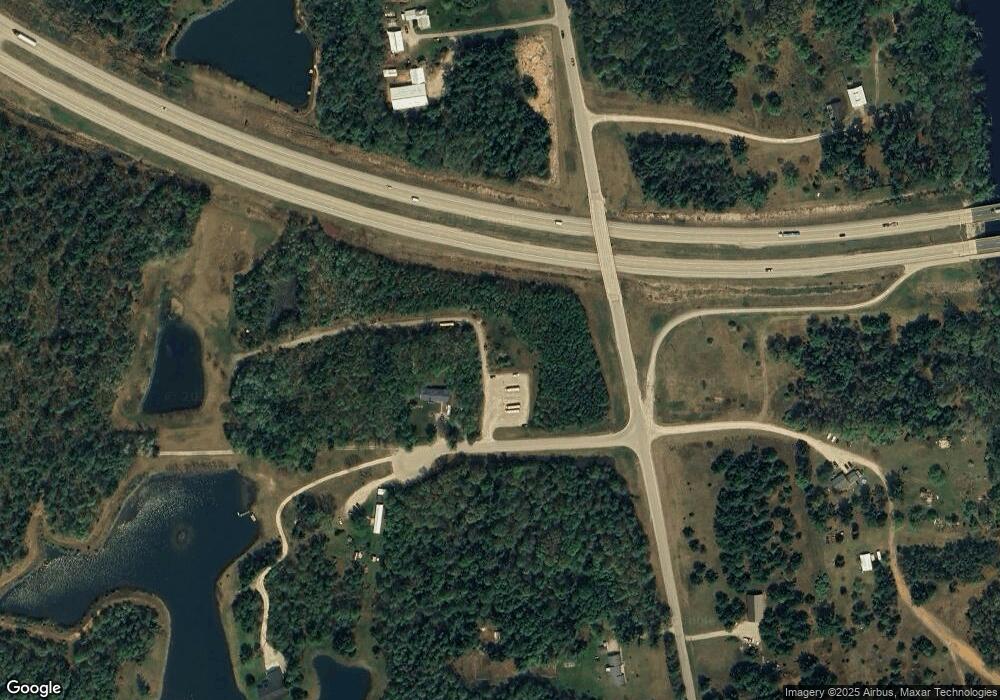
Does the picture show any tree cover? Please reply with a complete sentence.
Yes, the picture does contain tree cover.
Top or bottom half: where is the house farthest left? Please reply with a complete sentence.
Seen from above, the house farthest left lies in the bottom half of the view.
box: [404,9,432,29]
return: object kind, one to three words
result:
house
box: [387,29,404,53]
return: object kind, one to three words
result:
barn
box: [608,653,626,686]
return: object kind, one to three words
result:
house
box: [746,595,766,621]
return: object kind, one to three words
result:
barn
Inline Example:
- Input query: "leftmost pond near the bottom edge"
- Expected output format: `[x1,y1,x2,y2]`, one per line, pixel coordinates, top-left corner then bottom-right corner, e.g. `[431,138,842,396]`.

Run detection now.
[0,470,257,700]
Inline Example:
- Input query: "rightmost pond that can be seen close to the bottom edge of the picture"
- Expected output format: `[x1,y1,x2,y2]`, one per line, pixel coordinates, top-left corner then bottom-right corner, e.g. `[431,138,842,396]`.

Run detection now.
[314,656,370,700]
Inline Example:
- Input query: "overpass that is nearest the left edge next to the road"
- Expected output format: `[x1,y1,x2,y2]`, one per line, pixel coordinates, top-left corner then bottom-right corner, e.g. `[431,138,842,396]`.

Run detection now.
[589,191,623,304]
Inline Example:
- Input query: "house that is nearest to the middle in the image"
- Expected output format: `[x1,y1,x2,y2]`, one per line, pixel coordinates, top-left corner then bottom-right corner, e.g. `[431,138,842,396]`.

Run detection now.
[421,388,449,401]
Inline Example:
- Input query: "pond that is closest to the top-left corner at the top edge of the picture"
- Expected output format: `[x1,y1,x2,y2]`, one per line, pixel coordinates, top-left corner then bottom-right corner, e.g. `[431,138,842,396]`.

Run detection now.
[174,0,312,108]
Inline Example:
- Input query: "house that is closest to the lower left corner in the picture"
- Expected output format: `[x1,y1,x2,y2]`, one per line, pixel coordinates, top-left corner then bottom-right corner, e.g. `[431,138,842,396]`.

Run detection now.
[257,667,292,700]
